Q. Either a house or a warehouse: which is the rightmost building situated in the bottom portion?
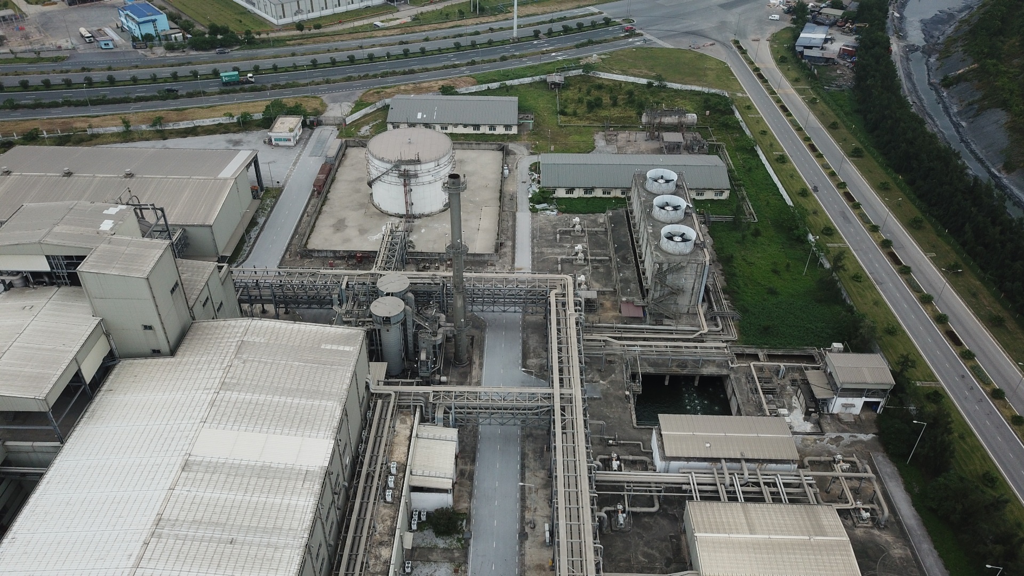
house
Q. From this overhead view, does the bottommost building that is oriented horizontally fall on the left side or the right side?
right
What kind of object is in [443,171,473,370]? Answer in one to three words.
chimney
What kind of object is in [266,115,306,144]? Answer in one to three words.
building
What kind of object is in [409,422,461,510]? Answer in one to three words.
building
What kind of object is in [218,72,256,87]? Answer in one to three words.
vehicle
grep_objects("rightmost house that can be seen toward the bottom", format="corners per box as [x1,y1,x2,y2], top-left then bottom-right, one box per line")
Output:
[824,352,894,420]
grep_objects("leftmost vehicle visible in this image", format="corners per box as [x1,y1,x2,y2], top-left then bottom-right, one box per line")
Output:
[78,28,92,43]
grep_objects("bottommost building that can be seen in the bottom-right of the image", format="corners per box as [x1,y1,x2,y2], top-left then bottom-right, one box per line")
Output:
[682,499,863,576]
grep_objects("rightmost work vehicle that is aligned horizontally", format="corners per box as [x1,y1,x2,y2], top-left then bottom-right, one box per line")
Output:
[841,19,863,32]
